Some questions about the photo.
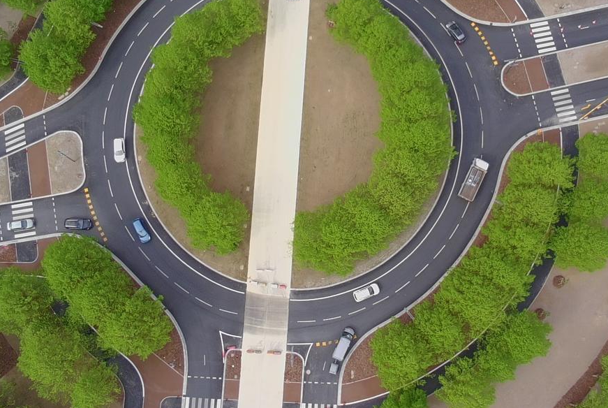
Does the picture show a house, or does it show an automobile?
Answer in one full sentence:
The image shows an automobile.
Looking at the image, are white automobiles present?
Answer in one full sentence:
Yes, there's a white automobile down there.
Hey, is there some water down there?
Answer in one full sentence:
No, no water is visible.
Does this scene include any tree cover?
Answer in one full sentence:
Yes, the picture does contain tree cover.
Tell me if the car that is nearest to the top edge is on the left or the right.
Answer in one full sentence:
The car that is nearest to the top edge is on the right side of the image.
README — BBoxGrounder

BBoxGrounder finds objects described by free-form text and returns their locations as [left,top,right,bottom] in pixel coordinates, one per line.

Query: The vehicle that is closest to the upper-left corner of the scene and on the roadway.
[111,136,124,161]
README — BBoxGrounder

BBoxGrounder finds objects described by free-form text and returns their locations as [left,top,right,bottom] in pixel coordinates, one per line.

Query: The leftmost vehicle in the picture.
[4,217,34,231]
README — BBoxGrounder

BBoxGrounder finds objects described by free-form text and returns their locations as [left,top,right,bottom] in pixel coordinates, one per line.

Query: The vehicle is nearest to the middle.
[351,283,381,302]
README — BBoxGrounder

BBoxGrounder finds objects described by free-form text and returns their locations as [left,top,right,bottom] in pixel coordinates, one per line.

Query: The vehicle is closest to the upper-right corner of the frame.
[445,20,467,43]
